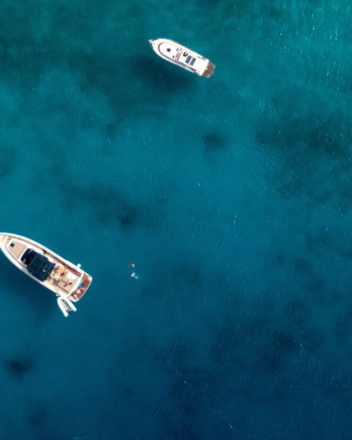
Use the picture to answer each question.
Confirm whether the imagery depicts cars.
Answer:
No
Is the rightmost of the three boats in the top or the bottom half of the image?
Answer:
top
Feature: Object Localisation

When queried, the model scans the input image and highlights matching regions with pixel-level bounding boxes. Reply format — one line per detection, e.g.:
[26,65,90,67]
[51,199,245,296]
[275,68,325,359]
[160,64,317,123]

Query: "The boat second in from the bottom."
[0,233,93,302]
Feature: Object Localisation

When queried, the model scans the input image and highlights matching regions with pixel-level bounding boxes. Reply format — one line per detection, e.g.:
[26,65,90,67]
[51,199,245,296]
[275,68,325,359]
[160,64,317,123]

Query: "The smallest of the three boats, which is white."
[60,296,74,315]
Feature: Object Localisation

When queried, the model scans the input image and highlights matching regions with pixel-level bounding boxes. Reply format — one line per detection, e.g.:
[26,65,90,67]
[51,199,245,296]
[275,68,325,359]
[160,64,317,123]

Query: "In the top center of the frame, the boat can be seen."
[150,38,215,78]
